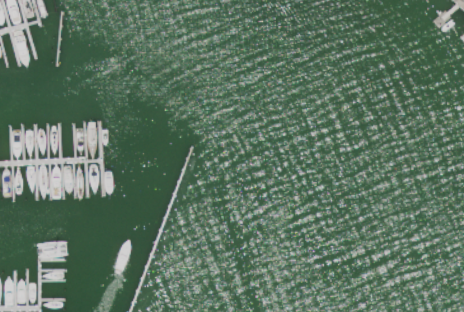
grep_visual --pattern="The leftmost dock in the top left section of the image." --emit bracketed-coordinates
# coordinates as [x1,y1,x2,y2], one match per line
[0,0,42,68]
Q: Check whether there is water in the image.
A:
Yes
